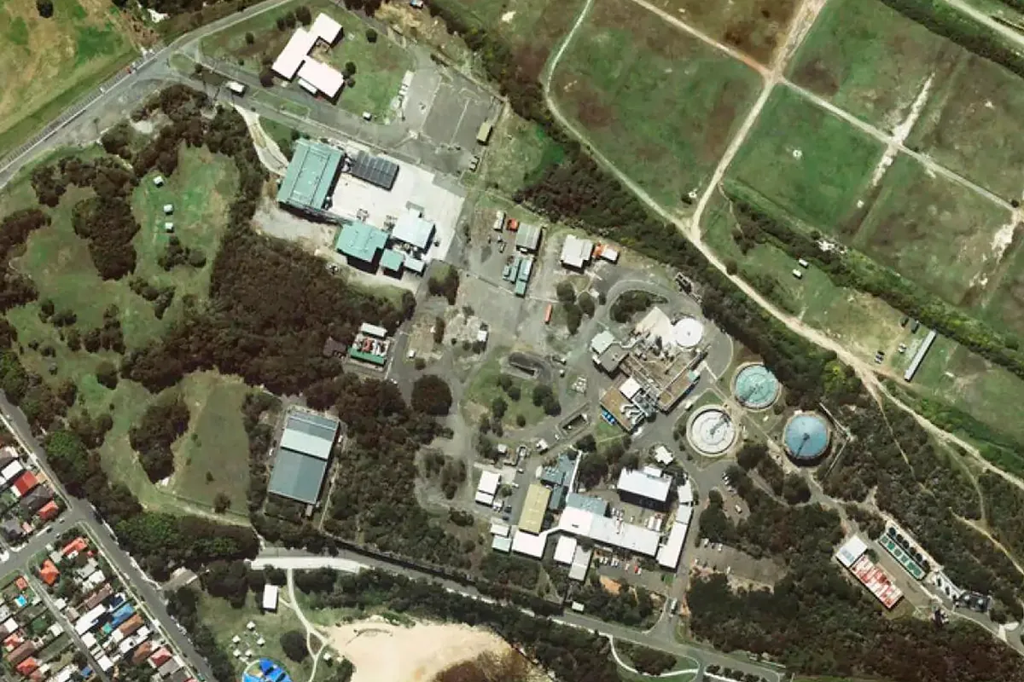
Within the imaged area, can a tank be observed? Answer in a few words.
Yes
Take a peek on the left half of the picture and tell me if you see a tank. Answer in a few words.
No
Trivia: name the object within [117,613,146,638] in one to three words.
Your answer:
house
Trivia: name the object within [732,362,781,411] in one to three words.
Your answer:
storage tank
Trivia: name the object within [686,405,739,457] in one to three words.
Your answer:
storage tank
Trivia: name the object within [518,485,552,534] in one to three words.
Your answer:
building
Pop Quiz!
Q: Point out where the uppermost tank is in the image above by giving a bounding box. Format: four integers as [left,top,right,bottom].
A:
[672,318,704,347]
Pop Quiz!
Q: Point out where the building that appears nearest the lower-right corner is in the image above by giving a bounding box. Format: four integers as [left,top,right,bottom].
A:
[851,556,903,608]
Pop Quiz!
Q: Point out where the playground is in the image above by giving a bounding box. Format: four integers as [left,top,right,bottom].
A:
[242,658,289,682]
